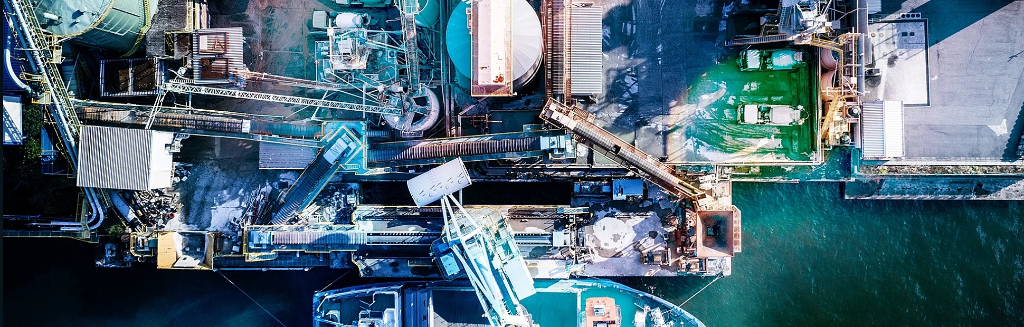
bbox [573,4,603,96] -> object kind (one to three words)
shed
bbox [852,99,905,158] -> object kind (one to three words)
shed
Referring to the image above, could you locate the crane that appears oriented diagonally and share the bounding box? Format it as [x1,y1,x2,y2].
[407,158,540,327]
